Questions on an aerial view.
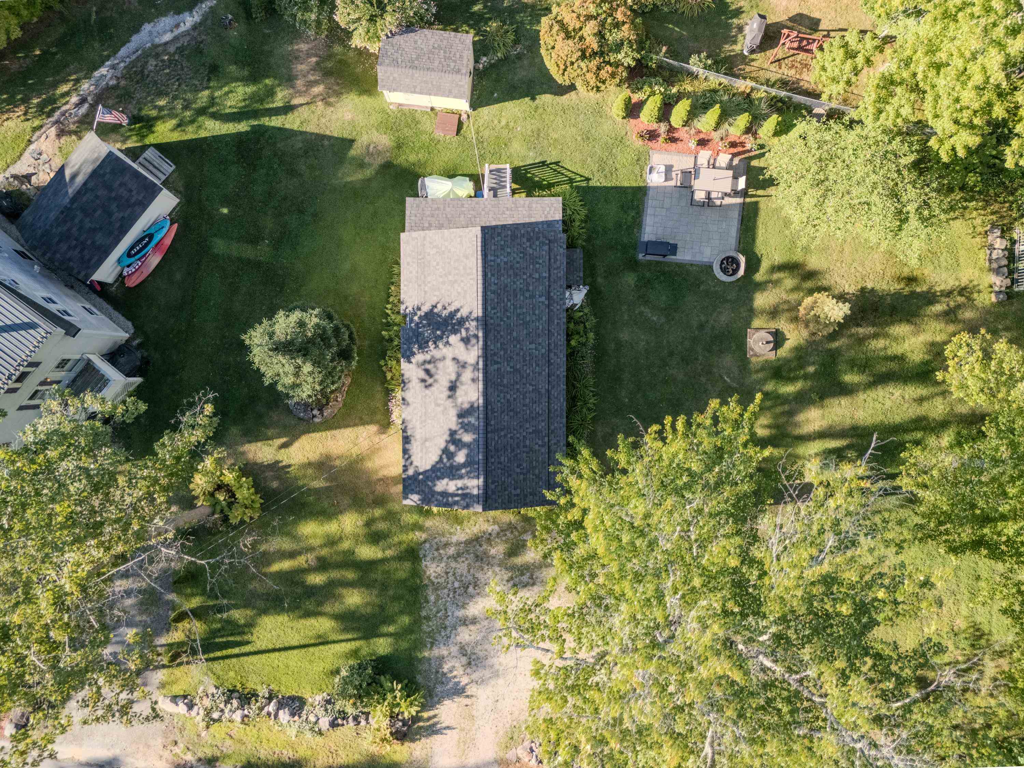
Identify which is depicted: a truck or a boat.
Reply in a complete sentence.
The one in the frame is a boat.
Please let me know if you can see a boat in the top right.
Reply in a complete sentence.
No, no boat is visible in the top right.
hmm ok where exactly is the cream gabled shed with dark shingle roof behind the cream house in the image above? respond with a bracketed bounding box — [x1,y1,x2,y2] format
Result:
[13,128,179,283]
